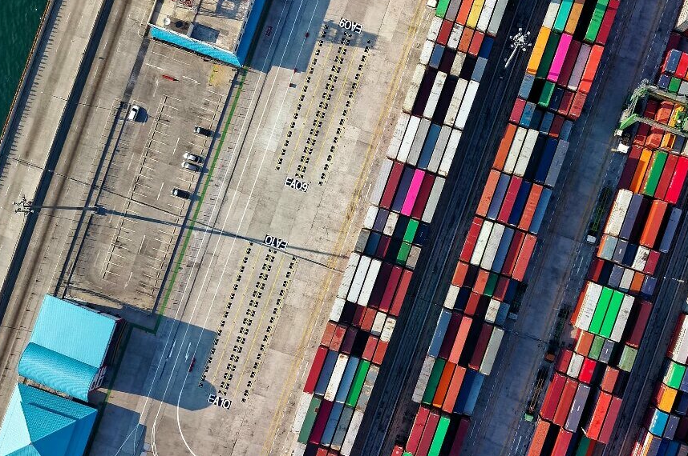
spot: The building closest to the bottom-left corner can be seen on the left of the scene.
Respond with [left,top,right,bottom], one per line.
[0,382,100,456]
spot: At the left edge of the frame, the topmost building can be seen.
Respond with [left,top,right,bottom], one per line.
[20,294,133,404]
